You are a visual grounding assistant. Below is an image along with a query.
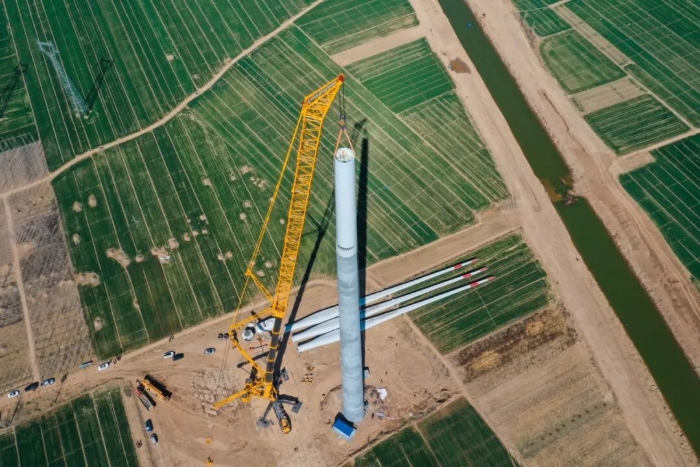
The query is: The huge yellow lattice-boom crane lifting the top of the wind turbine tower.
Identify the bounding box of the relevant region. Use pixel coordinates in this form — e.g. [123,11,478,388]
[208,75,347,433]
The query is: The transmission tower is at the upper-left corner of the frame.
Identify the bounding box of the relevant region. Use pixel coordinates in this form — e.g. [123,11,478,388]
[33,38,92,117]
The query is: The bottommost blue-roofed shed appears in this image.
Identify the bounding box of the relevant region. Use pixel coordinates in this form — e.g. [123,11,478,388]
[331,418,355,443]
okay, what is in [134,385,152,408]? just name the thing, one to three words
vehicle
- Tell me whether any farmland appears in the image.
Yes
